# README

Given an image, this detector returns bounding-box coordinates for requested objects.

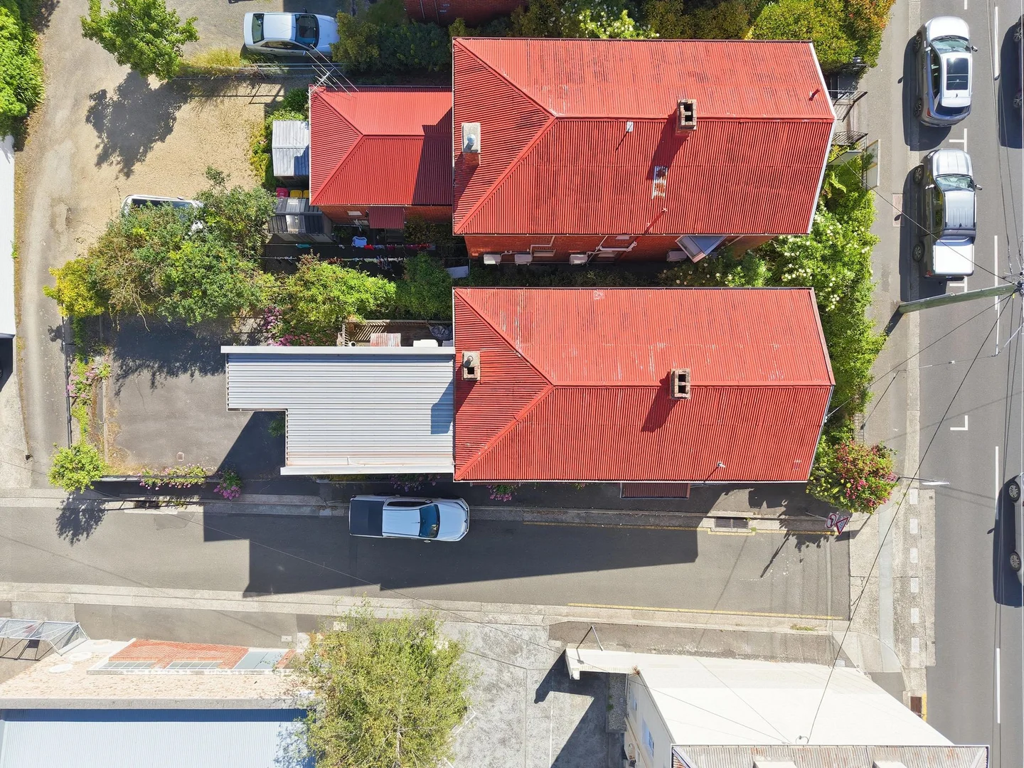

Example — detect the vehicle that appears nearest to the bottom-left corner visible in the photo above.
[348,494,467,547]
